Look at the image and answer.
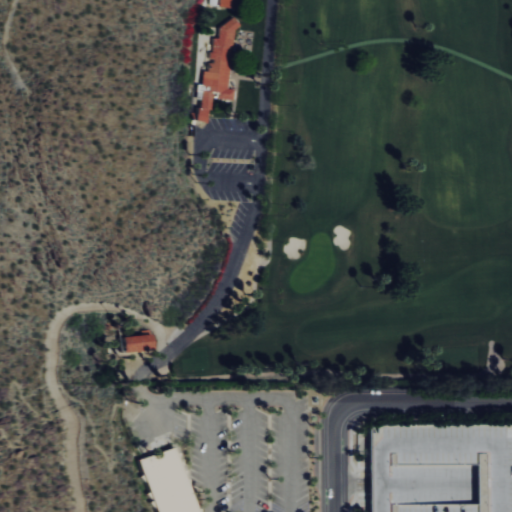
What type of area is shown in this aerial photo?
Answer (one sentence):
This image shows a golf course.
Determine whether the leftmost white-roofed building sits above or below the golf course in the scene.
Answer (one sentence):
Looking at the photo, you'll find the leftmost white-roofed building below the golf course.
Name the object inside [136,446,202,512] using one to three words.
building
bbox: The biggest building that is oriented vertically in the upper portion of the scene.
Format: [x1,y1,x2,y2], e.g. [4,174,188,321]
[194,18,240,124]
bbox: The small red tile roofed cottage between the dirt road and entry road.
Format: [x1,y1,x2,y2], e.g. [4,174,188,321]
[124,330,157,352]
